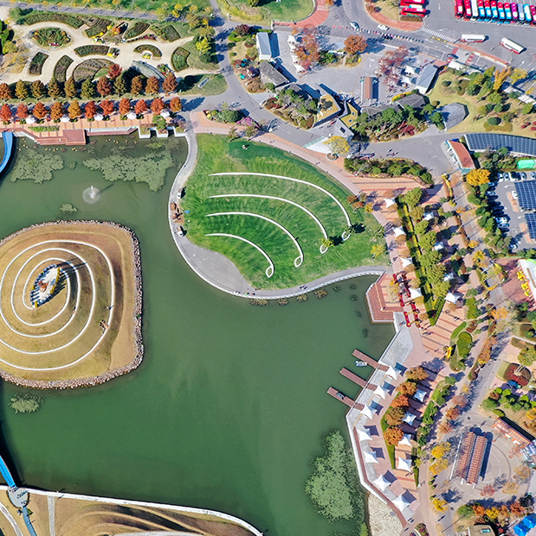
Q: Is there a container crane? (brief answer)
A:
No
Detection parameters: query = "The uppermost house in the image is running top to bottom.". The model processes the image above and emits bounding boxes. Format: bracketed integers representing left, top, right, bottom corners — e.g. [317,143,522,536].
[255,30,271,62]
